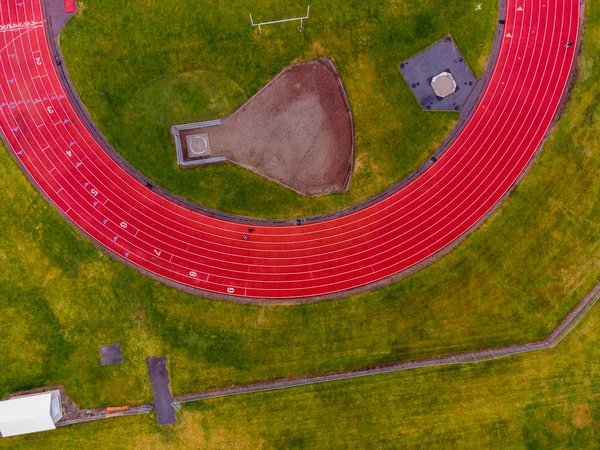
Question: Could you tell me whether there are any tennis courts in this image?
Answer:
No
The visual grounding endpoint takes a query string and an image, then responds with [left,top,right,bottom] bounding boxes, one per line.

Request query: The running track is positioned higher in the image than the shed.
[0,0,579,298]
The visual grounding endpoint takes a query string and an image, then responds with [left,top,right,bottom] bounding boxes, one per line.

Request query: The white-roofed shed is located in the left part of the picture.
[0,390,63,438]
